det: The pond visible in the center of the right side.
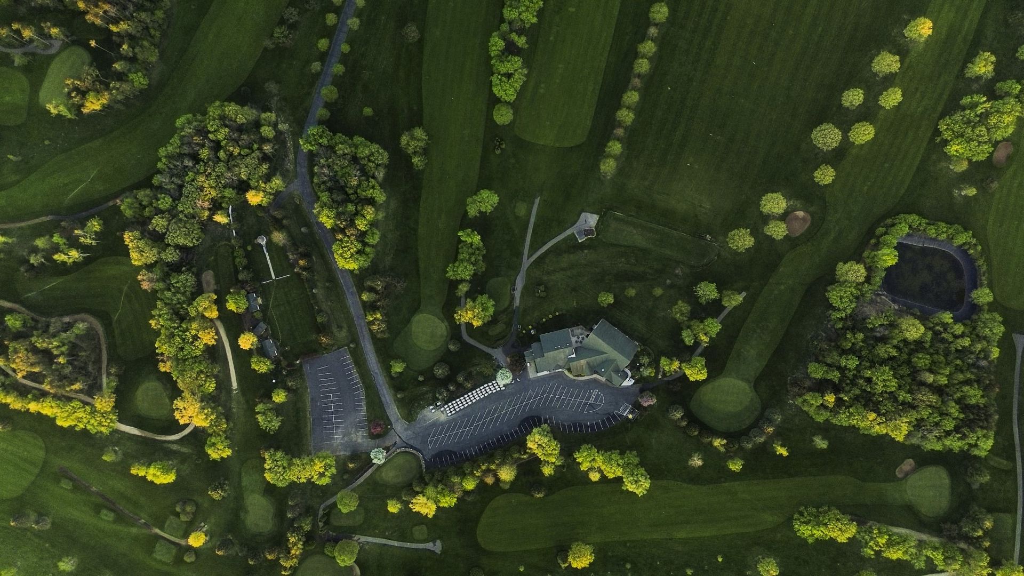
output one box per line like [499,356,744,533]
[883,241,965,314]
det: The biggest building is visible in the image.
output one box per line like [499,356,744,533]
[525,318,639,387]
